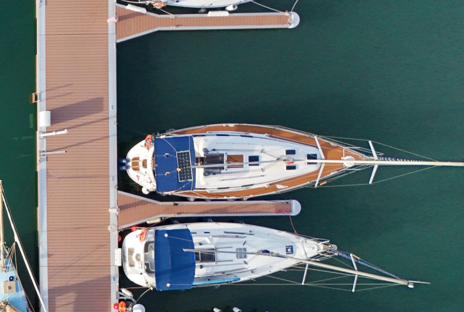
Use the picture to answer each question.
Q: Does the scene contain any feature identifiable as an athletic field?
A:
No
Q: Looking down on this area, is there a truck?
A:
No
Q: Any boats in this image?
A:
Yes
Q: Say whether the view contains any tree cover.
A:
No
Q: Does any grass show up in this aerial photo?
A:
No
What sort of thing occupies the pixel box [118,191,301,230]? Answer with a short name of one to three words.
pier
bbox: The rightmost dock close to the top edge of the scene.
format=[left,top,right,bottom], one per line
[116,4,300,42]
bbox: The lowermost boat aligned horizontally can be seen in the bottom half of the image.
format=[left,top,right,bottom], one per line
[121,222,430,292]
